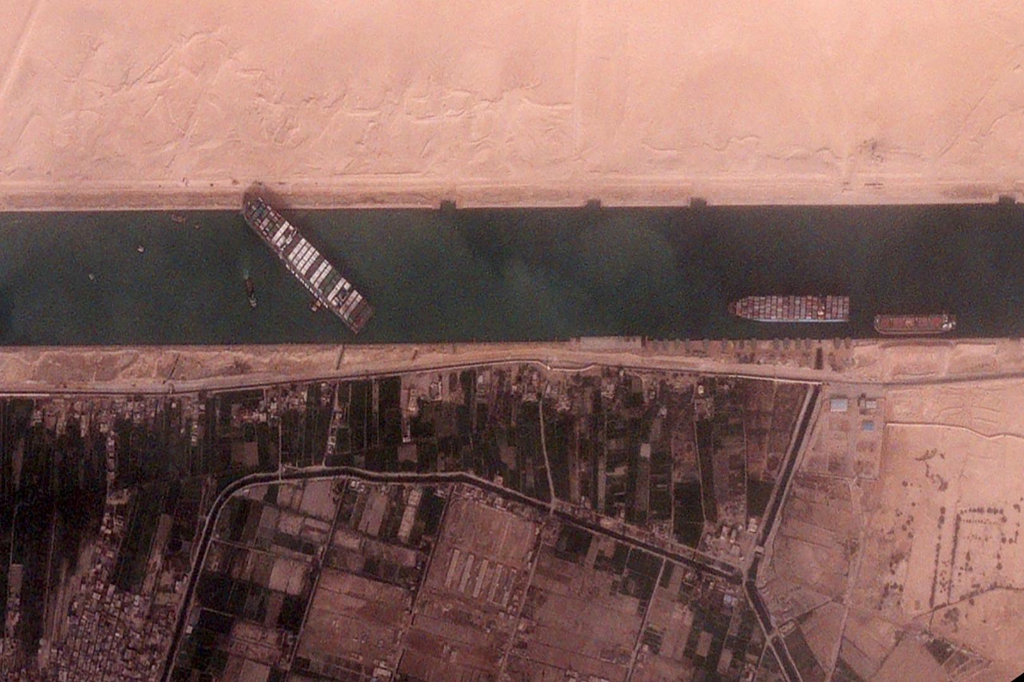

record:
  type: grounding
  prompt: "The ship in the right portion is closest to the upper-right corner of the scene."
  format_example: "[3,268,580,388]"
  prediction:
[874,315,956,334]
